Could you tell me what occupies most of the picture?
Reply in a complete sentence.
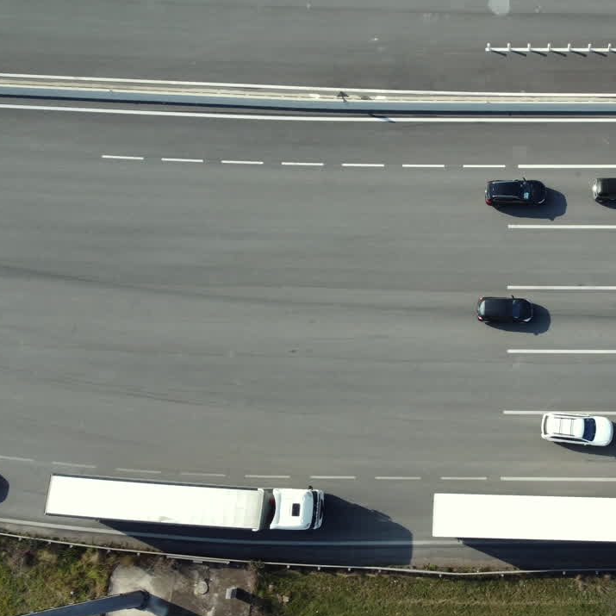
What you mostly see from above here is paved ground.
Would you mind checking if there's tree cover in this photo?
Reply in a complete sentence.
No, the picture contains no tree cover.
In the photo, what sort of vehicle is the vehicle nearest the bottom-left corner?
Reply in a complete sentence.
I'd say the vehicle nearest the bottom-left corner is a truck.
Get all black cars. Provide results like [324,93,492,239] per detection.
[592,179,616,206]
[484,176,546,208]
[477,294,534,325]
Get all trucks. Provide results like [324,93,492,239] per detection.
[431,493,616,543]
[44,474,327,535]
